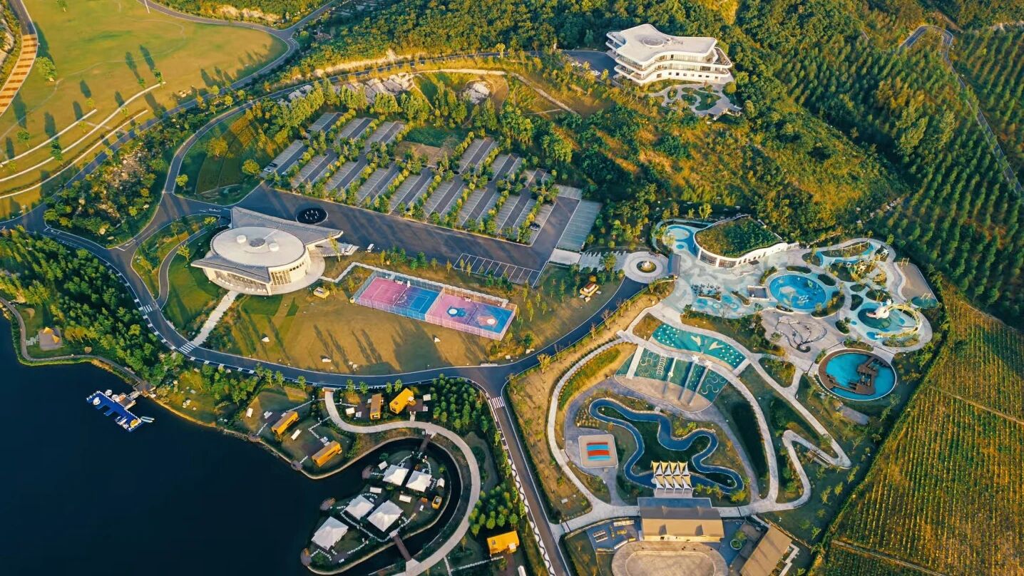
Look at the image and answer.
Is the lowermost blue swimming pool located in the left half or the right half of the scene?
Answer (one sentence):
The lowermost blue swimming pool is on the right side of the image.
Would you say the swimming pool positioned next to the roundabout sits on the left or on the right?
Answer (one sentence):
It is on the right.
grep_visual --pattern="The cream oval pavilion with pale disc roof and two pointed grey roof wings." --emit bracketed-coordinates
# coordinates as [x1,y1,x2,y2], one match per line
[191,206,359,297]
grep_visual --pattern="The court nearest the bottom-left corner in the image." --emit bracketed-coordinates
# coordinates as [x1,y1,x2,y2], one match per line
[355,277,440,320]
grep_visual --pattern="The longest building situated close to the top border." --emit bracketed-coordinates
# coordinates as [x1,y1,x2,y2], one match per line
[605,24,732,85]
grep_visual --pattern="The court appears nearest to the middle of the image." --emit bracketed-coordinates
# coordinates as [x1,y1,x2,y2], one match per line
[424,292,515,340]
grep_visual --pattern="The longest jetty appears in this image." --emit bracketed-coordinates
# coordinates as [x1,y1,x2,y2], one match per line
[87,391,142,433]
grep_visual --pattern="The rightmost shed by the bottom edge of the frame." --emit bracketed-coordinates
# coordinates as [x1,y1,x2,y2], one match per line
[738,526,791,576]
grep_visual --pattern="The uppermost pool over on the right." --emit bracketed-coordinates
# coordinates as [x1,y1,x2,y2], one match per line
[664,223,698,258]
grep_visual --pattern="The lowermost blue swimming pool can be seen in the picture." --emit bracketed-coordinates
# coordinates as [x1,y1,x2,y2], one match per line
[818,347,898,401]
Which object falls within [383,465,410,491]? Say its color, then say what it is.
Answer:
white tent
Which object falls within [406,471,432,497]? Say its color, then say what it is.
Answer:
white tent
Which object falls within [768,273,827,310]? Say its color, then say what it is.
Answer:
blue swimming pool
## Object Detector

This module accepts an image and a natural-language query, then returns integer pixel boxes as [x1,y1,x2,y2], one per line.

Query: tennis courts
[424,292,515,340]
[355,277,440,320]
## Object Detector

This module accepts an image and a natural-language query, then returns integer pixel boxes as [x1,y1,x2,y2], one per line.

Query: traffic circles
[623,252,670,283]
